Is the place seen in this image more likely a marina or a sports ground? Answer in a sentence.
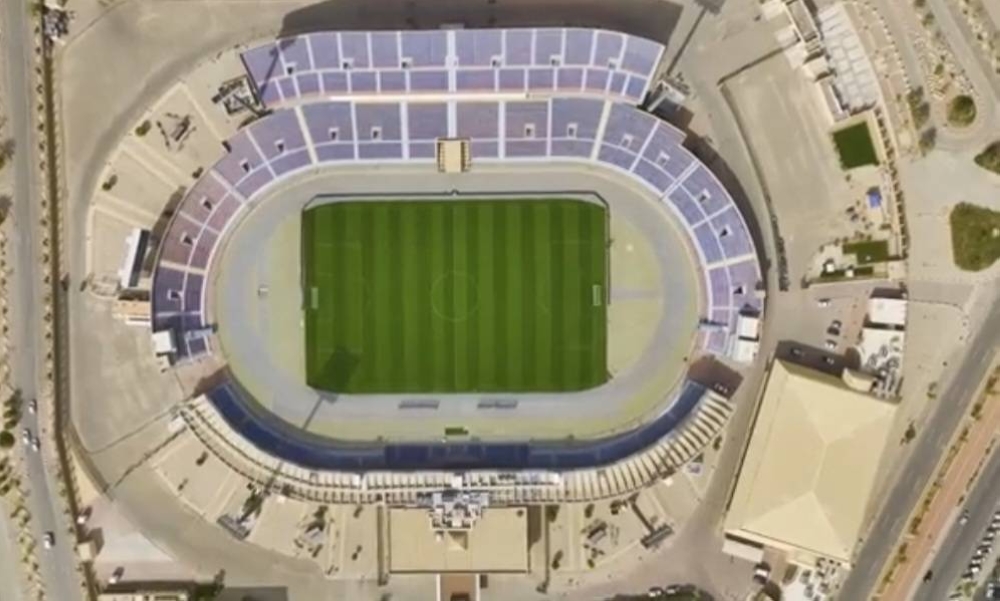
The area seen from above is a sports ground.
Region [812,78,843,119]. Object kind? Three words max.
building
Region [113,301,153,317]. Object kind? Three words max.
building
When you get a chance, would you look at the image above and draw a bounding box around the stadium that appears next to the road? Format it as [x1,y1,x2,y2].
[151,21,764,505]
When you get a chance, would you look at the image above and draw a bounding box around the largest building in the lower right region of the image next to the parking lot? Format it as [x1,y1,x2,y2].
[720,351,900,569]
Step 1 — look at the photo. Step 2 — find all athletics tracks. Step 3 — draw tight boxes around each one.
[201,157,712,448]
